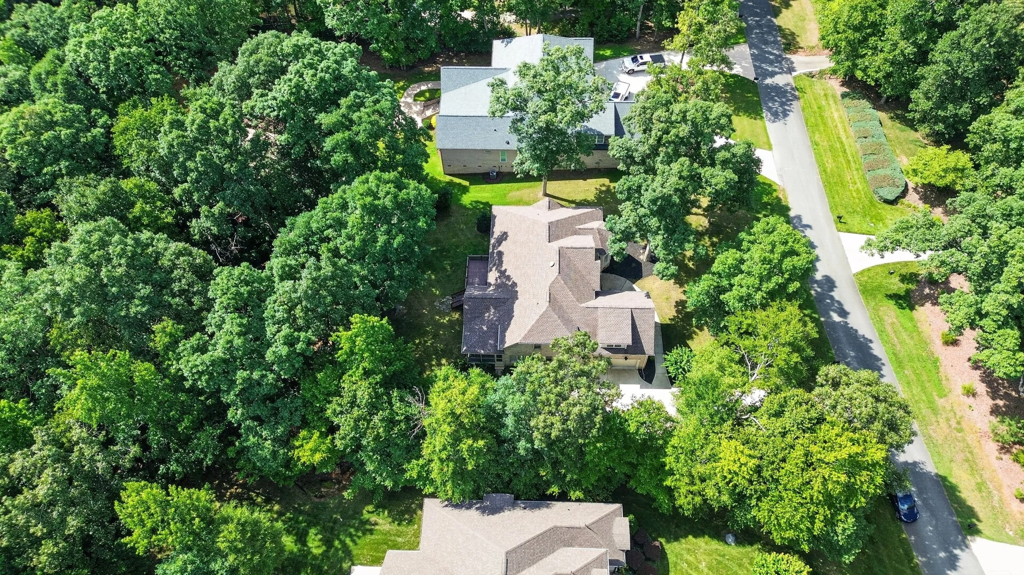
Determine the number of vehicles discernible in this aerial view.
three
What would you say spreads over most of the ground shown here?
trees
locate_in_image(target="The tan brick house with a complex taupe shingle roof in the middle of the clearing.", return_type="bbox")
[461,198,655,377]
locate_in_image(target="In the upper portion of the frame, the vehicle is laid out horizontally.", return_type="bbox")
[622,49,669,73]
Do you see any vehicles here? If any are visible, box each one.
[622,49,669,73]
[895,479,923,522]
[607,74,633,100]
